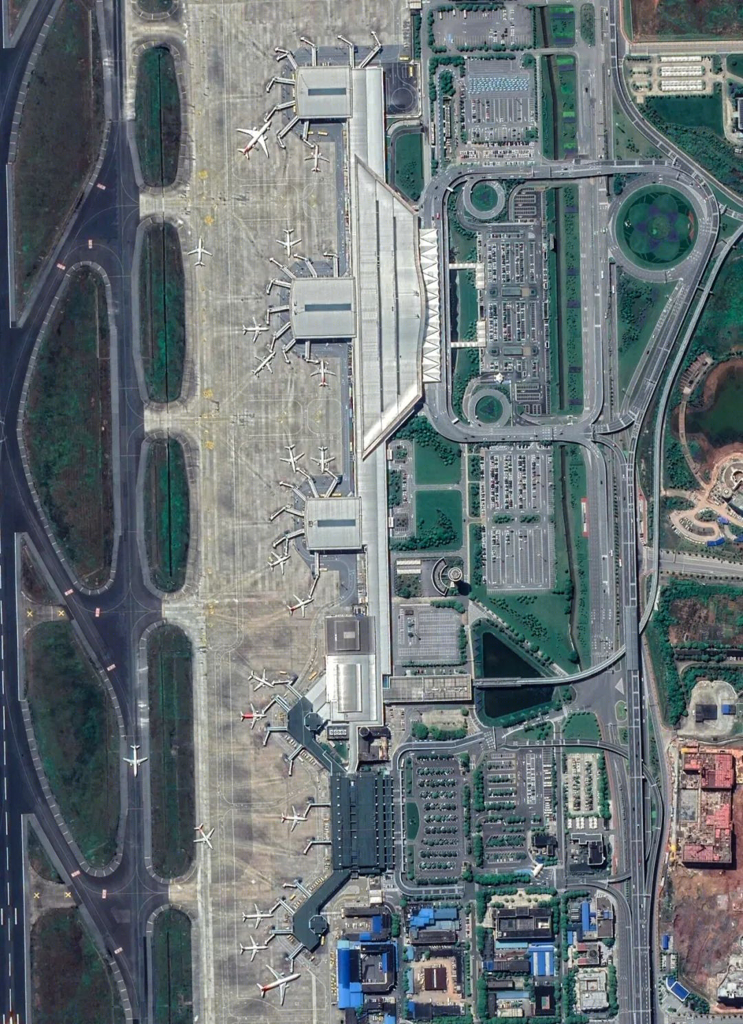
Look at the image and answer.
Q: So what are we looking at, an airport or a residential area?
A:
airport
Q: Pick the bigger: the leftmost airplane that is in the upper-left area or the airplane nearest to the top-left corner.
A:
the airplane nearest to the top-left corner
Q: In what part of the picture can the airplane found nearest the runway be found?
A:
bottom left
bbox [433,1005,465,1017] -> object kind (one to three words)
building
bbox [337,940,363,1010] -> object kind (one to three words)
hangar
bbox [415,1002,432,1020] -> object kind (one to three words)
building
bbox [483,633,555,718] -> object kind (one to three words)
pond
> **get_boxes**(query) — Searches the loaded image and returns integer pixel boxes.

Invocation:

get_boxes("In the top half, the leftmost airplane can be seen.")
[187,237,212,265]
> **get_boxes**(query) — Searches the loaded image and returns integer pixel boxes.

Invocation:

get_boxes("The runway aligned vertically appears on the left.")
[0,0,26,1024]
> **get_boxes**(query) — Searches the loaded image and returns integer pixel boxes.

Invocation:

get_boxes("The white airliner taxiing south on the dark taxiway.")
[122,745,147,776]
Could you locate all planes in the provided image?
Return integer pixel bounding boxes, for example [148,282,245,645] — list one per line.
[310,360,335,386]
[242,904,273,929]
[304,144,329,171]
[242,317,268,341]
[276,229,301,256]
[255,966,301,1006]
[281,806,307,831]
[287,595,313,615]
[249,671,273,692]
[241,704,266,729]
[236,122,270,160]
[187,237,212,265]
[251,351,275,376]
[280,445,304,471]
[240,936,268,962]
[267,551,290,571]
[194,825,215,849]
[310,446,335,472]
[122,745,147,776]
